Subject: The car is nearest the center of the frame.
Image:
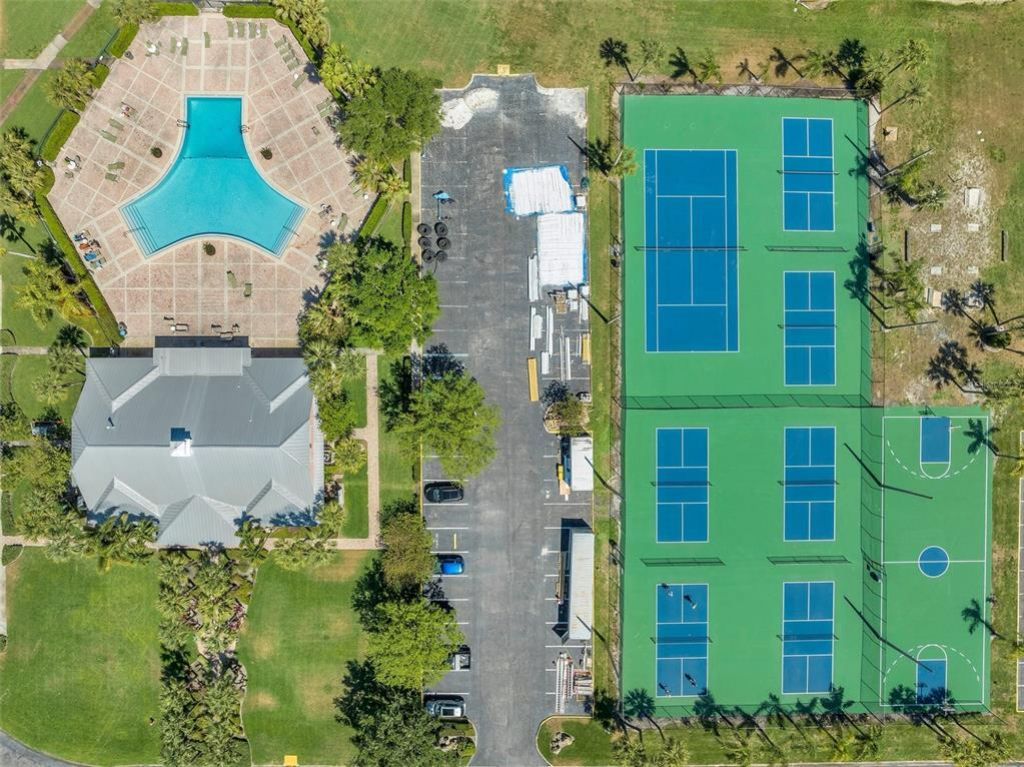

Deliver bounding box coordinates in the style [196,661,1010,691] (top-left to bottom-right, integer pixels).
[423,484,463,503]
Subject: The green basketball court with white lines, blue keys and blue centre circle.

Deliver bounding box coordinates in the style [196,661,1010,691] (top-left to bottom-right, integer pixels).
[880,417,988,705]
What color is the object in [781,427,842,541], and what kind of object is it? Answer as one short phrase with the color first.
blue sports court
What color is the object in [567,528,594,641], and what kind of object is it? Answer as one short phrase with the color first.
white trailer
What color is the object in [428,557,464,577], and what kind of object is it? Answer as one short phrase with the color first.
blue car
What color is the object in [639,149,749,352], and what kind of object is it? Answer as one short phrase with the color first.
blue tennis court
